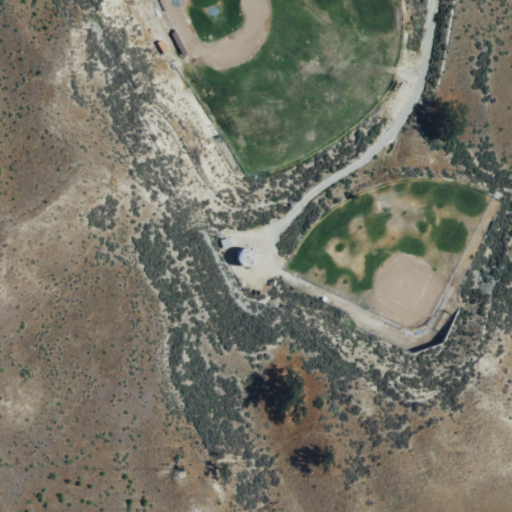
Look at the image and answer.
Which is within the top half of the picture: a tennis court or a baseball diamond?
baseball diamond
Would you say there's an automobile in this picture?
No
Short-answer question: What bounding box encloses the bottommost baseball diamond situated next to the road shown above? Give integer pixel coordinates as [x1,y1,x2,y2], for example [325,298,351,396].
[284,179,494,327]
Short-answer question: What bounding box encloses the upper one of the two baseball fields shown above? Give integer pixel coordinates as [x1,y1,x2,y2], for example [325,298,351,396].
[165,0,403,176]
